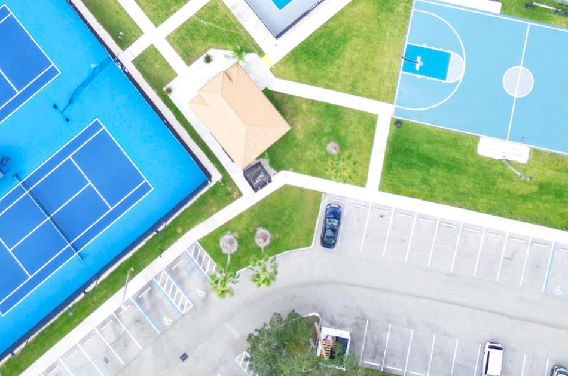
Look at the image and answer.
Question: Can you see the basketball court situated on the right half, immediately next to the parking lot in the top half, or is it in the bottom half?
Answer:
top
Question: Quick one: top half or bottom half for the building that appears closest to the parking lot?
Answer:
top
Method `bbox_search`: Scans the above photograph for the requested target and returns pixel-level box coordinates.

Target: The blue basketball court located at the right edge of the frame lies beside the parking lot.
[392,0,568,156]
